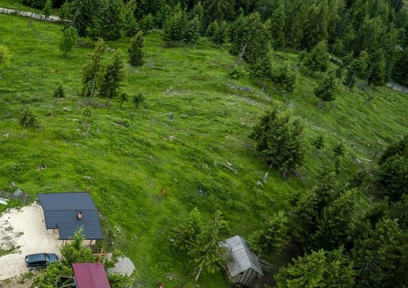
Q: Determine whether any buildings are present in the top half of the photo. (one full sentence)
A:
No, there is no building in the top half of the photo.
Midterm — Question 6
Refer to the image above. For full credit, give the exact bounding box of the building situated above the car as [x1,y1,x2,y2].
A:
[34,193,103,252]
